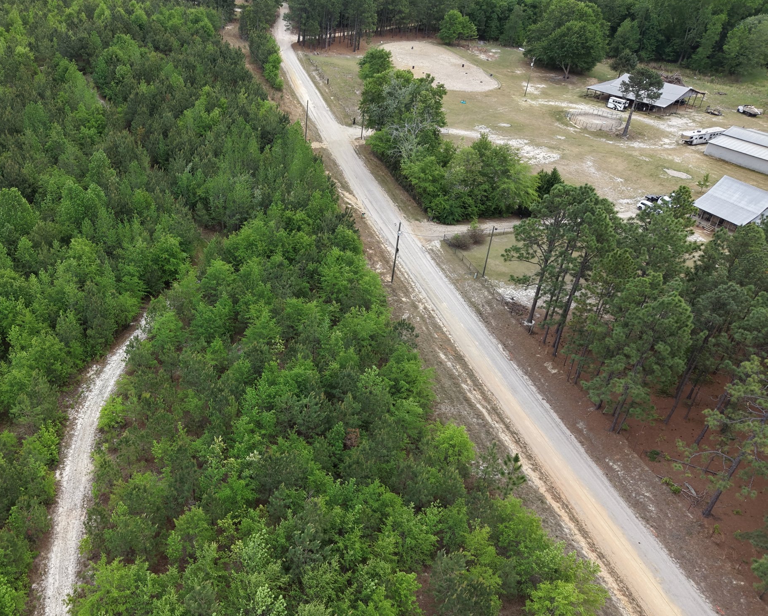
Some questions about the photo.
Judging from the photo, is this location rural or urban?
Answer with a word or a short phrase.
rural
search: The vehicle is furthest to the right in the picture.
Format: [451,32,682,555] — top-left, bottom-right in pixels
[733,103,763,116]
